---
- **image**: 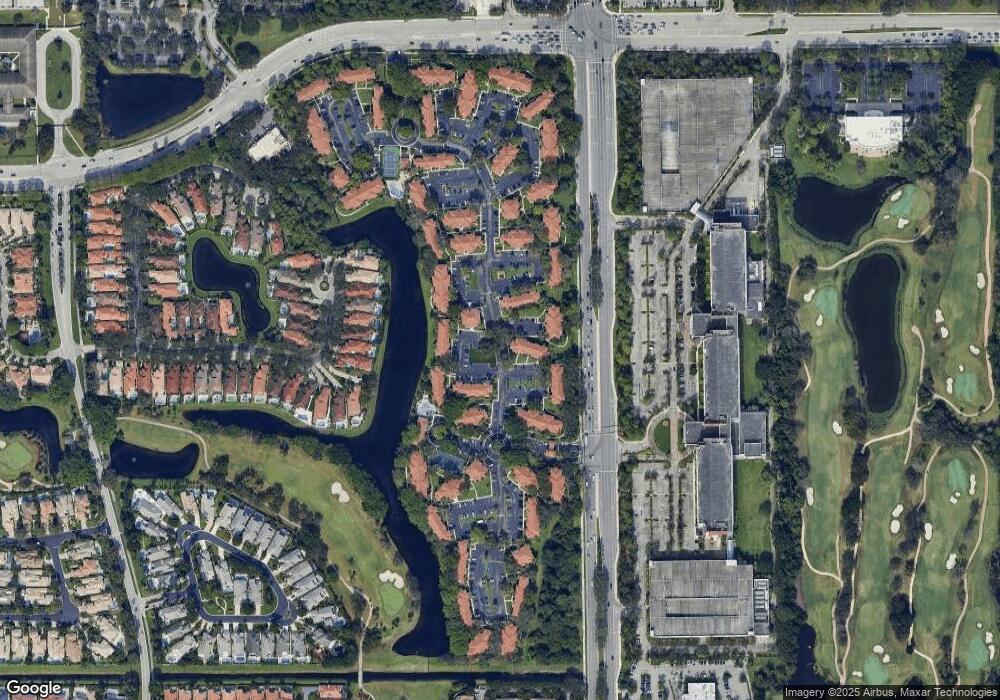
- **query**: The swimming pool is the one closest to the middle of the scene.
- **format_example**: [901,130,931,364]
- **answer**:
[417,395,436,415]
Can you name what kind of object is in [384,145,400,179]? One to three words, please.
tennis court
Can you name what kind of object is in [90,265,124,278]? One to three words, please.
house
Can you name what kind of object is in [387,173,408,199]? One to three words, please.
swimming pool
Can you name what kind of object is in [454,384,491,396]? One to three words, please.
building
